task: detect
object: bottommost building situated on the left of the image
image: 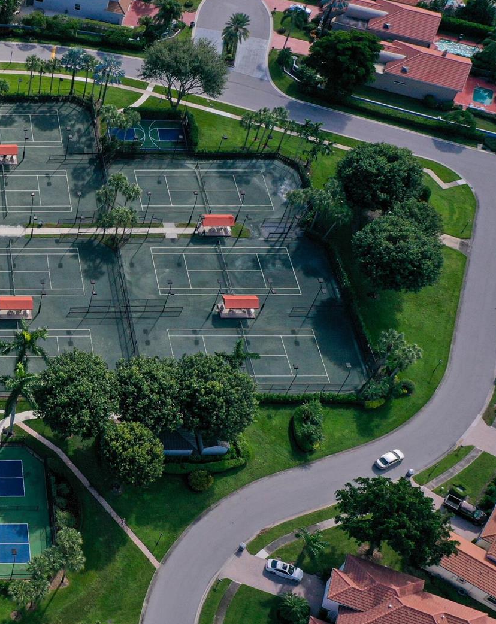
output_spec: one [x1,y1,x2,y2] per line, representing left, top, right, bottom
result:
[161,418,229,456]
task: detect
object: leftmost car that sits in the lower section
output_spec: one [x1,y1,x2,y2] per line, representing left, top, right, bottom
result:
[266,557,304,582]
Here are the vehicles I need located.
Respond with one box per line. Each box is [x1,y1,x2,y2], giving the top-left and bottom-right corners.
[442,493,488,523]
[289,0,313,14]
[266,557,304,582]
[375,448,406,469]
